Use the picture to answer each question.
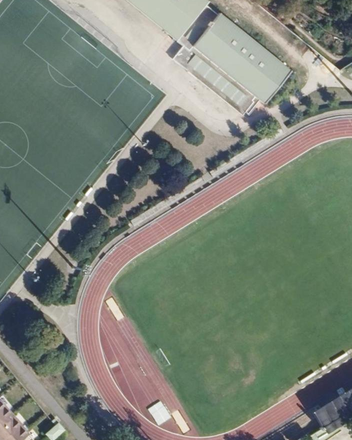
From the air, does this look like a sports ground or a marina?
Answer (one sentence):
It's a sports ground.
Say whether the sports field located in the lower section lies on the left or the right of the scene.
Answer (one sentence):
You can find the sports field located in the lower section on the right side of the picture.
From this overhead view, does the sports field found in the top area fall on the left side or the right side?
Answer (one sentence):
The sports field found in the top area is on the left side of the image.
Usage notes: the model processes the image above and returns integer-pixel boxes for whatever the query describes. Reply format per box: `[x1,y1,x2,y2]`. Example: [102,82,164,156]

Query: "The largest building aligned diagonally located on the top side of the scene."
[192,13,292,102]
